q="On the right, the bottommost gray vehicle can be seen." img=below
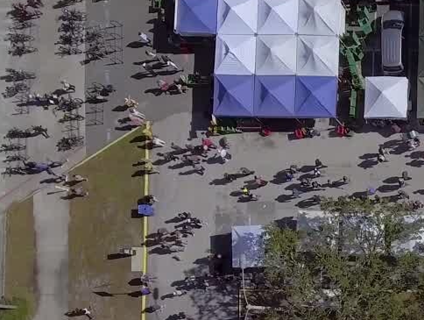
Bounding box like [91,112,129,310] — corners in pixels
[379,12,409,76]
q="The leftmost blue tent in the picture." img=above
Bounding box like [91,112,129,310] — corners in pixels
[179,0,218,45]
